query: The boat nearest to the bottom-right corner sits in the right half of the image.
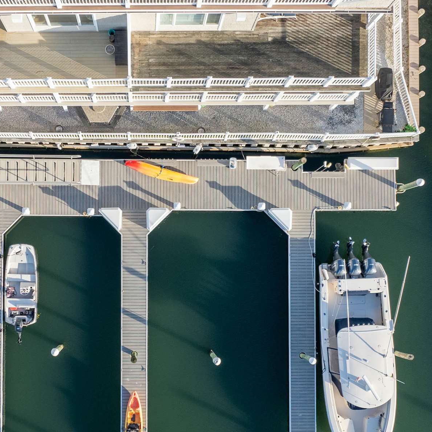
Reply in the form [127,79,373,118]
[318,238,410,432]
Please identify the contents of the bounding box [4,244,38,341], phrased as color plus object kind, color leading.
white boat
